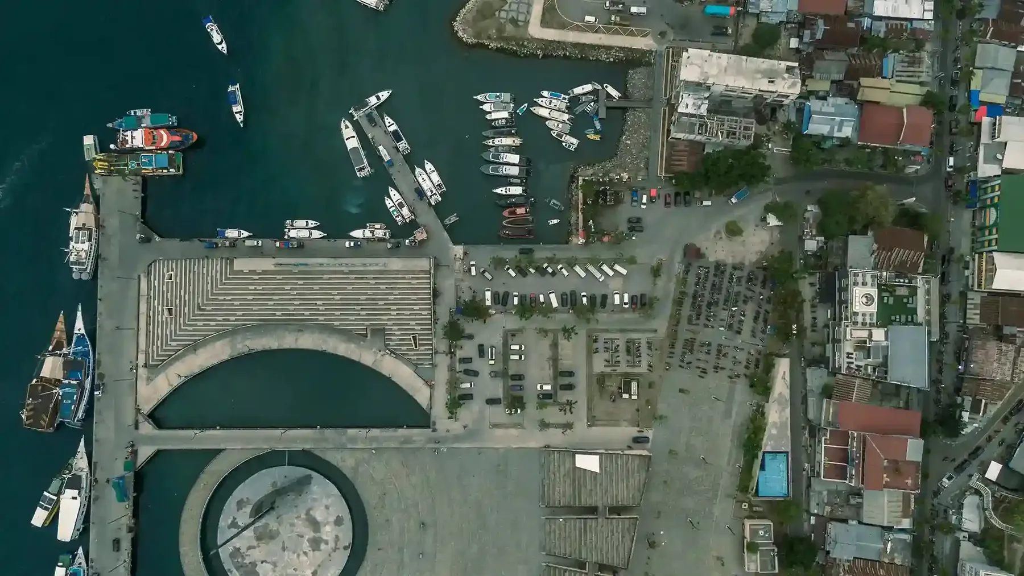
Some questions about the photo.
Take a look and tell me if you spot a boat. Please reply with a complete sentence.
Yes, there's a boat down there.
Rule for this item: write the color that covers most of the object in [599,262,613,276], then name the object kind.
white vehicle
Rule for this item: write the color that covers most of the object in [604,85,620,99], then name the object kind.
white boat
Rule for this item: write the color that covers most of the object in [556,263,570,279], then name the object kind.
white vehicle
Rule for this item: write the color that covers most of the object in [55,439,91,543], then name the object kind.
white vessel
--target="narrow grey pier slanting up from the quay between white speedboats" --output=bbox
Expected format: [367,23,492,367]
[353,108,455,249]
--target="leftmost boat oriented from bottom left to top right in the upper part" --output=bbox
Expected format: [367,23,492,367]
[349,89,392,119]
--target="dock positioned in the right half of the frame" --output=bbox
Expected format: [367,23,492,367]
[598,89,652,119]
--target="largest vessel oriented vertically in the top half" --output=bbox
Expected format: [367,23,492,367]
[65,173,101,280]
